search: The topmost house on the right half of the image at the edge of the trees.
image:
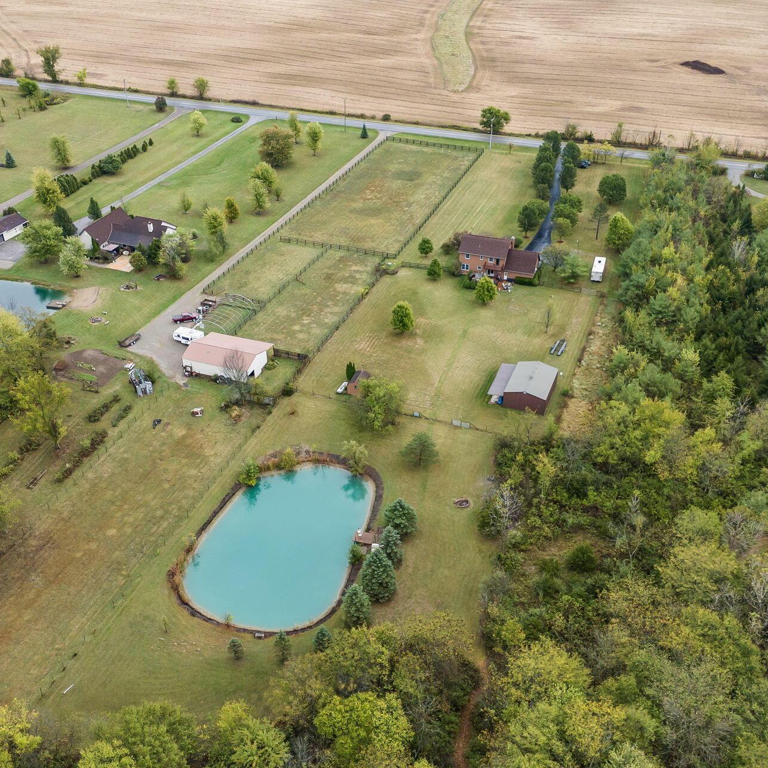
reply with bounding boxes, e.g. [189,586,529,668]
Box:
[458,234,543,282]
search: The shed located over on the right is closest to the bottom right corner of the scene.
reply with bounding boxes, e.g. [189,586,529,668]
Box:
[487,360,559,414]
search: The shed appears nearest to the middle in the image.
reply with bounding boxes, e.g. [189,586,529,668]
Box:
[345,370,370,394]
